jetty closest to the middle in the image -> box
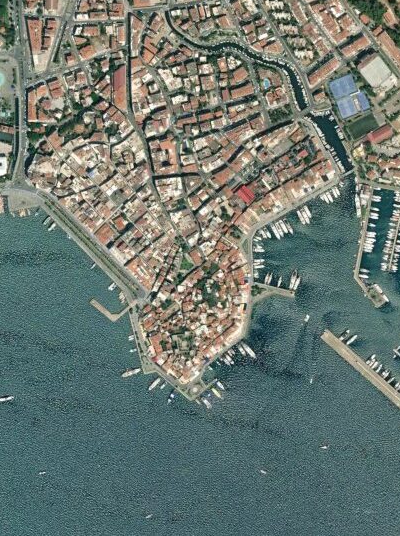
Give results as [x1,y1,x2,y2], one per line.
[252,282,295,306]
